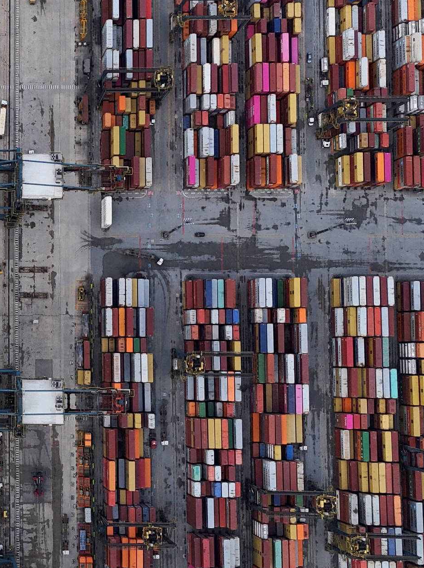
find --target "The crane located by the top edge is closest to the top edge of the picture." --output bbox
[166,0,252,44]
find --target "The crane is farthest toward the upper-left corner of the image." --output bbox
[91,67,173,113]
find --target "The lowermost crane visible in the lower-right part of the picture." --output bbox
[320,518,420,562]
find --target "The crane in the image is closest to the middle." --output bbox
[167,346,255,381]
